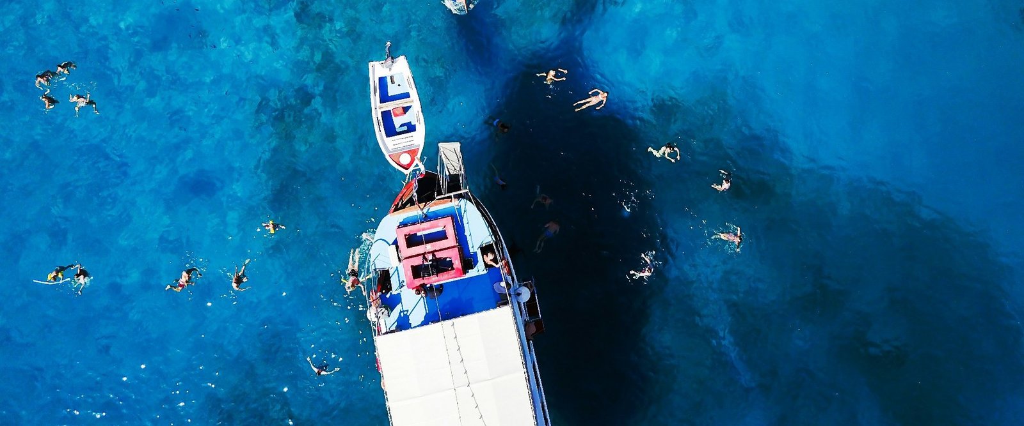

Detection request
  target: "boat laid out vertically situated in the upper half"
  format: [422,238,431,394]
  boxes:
[369,41,424,172]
